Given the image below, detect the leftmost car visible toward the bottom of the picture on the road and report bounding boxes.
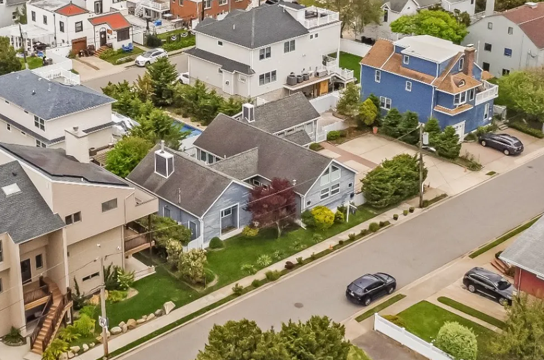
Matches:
[339,270,395,306]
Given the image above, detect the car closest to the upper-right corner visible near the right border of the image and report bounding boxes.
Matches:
[477,132,525,155]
